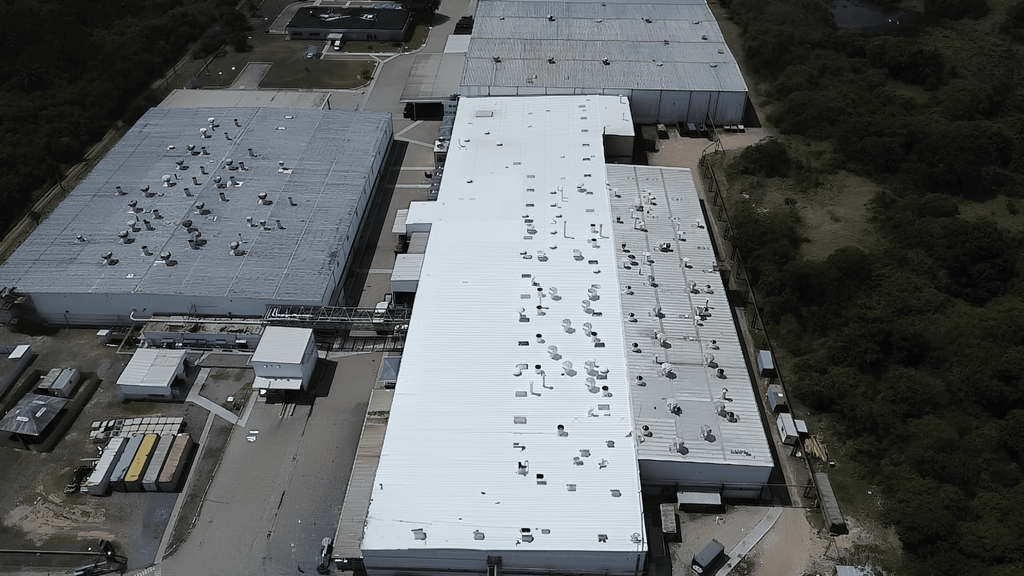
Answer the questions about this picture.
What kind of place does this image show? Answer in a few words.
industrial area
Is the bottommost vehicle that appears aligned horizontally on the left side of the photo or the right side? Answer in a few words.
left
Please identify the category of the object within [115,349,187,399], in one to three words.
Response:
shed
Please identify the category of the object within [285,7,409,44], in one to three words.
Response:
building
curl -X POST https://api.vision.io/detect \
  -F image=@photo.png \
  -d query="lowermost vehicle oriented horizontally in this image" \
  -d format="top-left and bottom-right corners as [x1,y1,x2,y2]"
[74,553,125,576]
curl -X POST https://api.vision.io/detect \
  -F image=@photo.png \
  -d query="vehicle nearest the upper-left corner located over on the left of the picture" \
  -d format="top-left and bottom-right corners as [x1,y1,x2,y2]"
[306,43,319,57]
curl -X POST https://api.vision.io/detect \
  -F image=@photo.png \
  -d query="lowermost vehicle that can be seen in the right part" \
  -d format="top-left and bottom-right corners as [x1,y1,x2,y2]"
[692,537,726,576]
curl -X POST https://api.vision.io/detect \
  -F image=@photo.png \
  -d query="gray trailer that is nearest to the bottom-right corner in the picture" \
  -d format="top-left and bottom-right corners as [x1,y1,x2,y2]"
[814,473,845,534]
